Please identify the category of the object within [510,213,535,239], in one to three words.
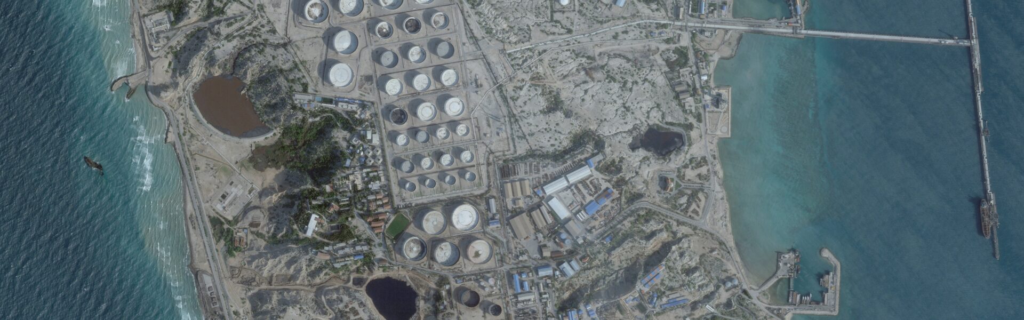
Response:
building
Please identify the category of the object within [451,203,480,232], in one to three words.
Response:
storage tank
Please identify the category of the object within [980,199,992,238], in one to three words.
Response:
ship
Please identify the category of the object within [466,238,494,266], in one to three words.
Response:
storage tank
